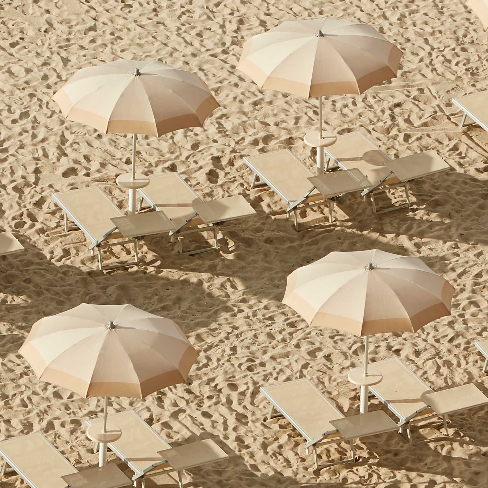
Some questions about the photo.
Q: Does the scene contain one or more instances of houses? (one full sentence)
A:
No, I find no house anywhere in the image.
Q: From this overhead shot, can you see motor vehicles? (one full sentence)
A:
No, I find no motor vehicle anywhere in the image.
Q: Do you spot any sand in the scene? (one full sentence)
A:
Yes, some sand is visible.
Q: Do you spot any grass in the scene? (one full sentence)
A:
No, the picture contains no grass.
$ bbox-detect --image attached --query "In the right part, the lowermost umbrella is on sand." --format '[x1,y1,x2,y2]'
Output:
[282,250,456,415]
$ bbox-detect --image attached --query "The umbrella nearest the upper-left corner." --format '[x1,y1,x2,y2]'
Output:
[52,59,222,214]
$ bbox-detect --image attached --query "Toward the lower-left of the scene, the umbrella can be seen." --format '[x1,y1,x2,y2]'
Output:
[19,304,200,467]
